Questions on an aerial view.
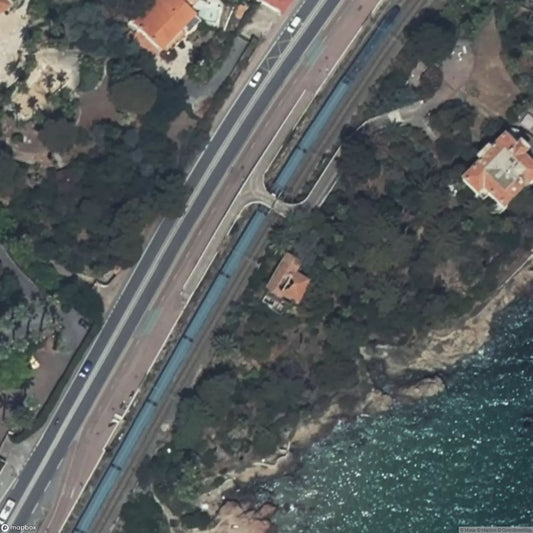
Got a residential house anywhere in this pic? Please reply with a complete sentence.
Yes, a residential house can be made out from above.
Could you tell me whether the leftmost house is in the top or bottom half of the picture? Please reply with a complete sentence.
The top half of the photo is where the leftmost house is.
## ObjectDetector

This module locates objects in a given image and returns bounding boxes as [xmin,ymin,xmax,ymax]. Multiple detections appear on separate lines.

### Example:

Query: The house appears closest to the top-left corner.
[128,0,202,54]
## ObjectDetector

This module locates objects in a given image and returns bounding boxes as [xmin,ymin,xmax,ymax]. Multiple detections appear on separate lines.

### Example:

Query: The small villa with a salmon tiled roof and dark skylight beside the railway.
[262,252,310,311]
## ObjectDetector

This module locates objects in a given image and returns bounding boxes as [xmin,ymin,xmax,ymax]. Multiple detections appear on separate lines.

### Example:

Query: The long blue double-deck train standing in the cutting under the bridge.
[74,8,399,533]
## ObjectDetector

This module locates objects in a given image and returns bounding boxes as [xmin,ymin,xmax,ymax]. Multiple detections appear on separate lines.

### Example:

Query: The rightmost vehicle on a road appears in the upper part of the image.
[287,16,302,33]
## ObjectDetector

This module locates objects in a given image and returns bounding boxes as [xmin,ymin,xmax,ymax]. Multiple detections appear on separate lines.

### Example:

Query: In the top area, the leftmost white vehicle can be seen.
[247,70,262,87]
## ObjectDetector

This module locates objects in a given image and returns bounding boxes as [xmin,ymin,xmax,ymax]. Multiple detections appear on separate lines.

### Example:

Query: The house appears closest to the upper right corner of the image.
[463,131,533,215]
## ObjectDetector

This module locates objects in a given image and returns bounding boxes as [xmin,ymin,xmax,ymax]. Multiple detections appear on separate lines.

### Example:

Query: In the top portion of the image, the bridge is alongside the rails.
[256,189,302,219]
